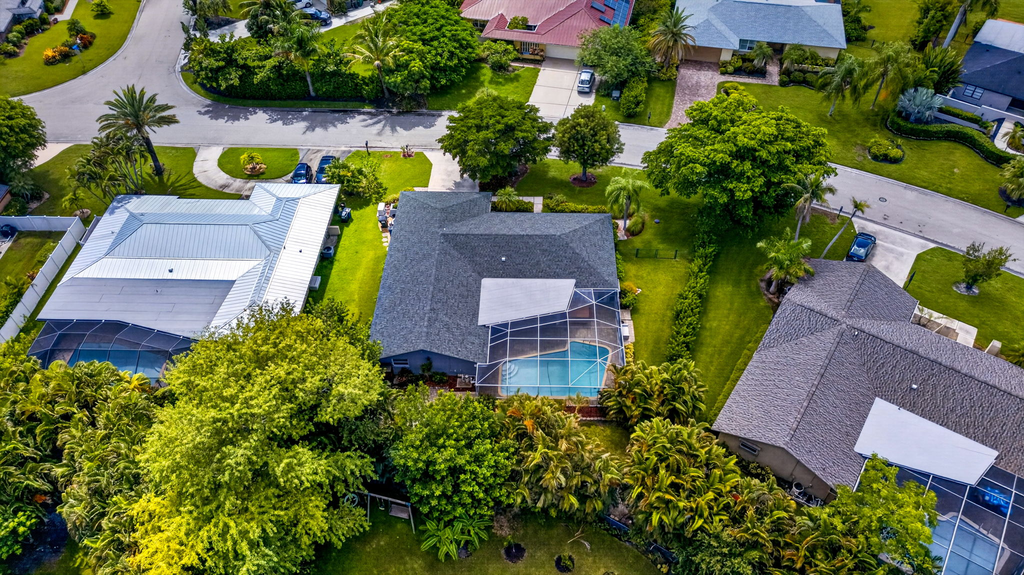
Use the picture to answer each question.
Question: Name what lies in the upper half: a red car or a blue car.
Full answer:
The one visible in the upper half is a blue car.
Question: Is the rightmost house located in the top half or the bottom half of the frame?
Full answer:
Seen from above, the rightmost house lies in the top half of the view.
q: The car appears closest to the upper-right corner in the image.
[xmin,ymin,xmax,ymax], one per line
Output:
[846,229,877,263]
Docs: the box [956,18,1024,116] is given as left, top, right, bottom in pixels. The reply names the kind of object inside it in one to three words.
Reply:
house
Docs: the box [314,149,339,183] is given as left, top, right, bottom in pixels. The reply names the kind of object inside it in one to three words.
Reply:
car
